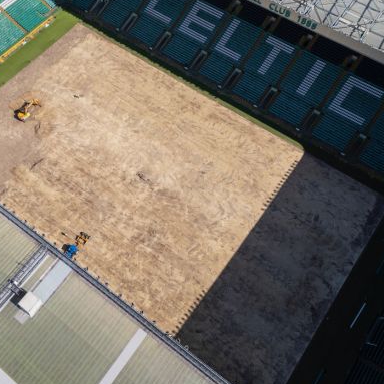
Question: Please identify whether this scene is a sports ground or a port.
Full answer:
What you see here is a sports ground.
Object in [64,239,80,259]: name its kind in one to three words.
work vehicle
